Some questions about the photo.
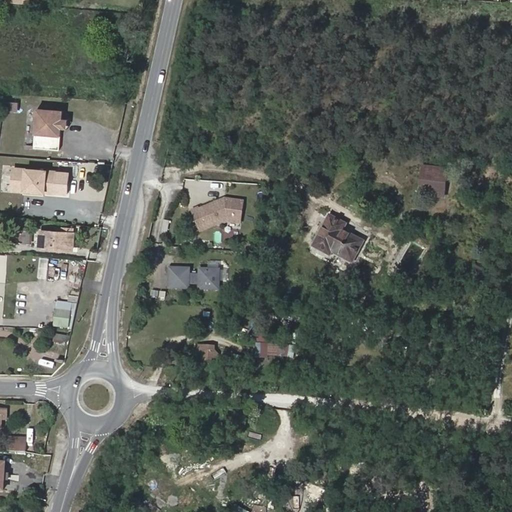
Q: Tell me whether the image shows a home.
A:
Yes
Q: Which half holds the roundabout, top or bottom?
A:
bottom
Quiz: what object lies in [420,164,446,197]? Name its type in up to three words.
shed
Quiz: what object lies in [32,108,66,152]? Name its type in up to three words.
house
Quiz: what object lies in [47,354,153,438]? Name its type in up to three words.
roundabout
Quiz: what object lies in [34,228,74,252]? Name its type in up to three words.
house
